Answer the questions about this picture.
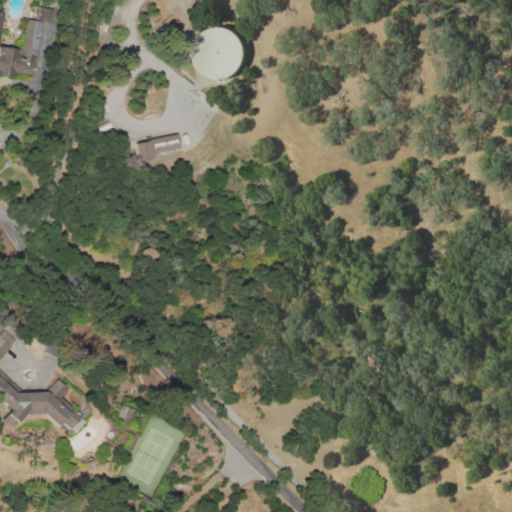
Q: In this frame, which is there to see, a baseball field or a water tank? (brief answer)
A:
water tank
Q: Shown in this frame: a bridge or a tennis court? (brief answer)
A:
tennis court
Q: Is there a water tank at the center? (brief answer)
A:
No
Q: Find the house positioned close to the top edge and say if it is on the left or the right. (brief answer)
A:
left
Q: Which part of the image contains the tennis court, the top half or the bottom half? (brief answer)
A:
bottom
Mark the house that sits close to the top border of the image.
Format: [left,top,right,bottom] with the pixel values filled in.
[0,6,56,78]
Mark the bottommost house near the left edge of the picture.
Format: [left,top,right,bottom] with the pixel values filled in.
[0,368,92,436]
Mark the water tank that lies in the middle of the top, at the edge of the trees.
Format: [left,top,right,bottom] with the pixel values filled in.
[192,26,244,79]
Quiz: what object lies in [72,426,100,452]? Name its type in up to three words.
swimming pool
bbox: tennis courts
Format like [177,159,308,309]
[120,417,184,496]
